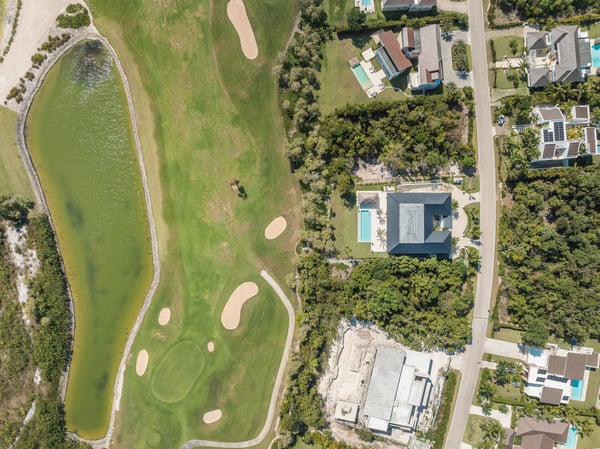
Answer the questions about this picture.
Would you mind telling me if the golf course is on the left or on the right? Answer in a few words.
left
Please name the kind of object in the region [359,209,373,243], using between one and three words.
swimming pool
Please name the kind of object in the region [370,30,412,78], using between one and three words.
house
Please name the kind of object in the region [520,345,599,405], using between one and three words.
house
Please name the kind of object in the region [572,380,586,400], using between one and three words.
swimming pool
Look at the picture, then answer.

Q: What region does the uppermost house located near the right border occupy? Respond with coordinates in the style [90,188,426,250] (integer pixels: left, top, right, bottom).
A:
[523,26,589,89]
